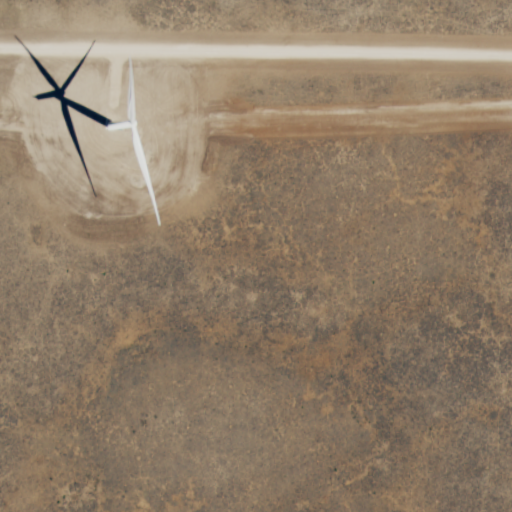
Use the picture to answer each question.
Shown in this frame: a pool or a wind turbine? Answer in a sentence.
It is a wind turbine that can be seen here.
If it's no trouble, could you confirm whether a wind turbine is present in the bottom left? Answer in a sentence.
No, looking in the bottom left, there is no wind turbine.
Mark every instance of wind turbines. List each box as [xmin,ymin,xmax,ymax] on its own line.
[106,58,160,226]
